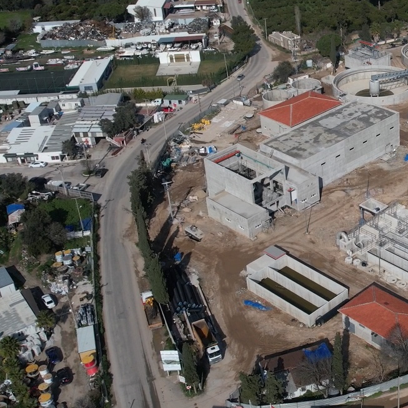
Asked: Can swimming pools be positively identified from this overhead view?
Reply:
No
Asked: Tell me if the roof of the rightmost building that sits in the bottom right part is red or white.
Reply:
red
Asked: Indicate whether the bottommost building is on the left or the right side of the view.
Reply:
right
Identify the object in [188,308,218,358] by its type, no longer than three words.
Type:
truck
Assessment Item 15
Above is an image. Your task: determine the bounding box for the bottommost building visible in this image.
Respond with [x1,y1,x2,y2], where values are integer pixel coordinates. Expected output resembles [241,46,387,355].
[259,333,329,400]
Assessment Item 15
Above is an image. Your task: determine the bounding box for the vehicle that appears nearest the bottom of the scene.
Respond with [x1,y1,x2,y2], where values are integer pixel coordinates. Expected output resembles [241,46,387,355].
[56,365,72,385]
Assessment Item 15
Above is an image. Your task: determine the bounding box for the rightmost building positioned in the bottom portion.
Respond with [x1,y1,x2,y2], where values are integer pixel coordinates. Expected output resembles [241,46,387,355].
[333,279,408,359]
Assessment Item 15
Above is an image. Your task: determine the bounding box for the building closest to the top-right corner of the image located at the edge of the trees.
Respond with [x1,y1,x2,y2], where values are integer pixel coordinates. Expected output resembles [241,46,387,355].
[345,38,393,74]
